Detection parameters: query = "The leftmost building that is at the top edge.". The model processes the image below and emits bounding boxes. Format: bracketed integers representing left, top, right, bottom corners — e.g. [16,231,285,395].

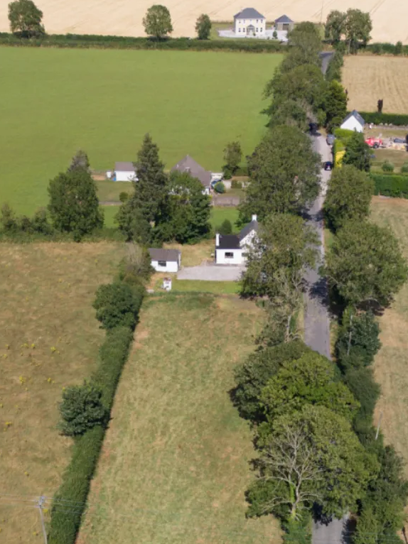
[235,6,267,37]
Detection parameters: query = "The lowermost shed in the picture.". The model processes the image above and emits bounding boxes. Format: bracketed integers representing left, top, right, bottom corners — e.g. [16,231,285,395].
[151,251,179,272]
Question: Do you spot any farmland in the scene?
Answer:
Yes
